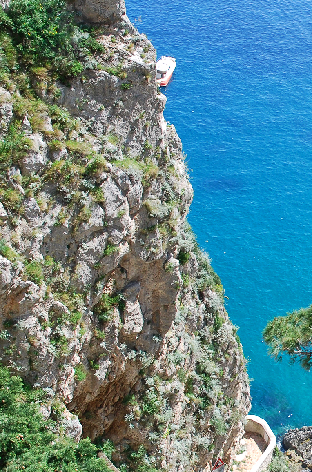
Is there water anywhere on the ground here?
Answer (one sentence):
Yes, water shows up in the scene.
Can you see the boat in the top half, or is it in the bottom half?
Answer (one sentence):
It is in the top half that the boat appears.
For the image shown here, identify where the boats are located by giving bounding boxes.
[150,49,174,85]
